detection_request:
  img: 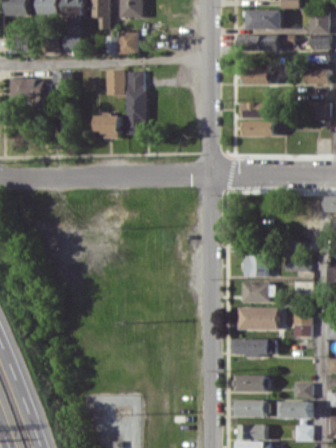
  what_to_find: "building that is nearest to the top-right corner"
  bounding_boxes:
[308,18,332,36]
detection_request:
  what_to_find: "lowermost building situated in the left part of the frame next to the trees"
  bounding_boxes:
[93,114,122,136]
